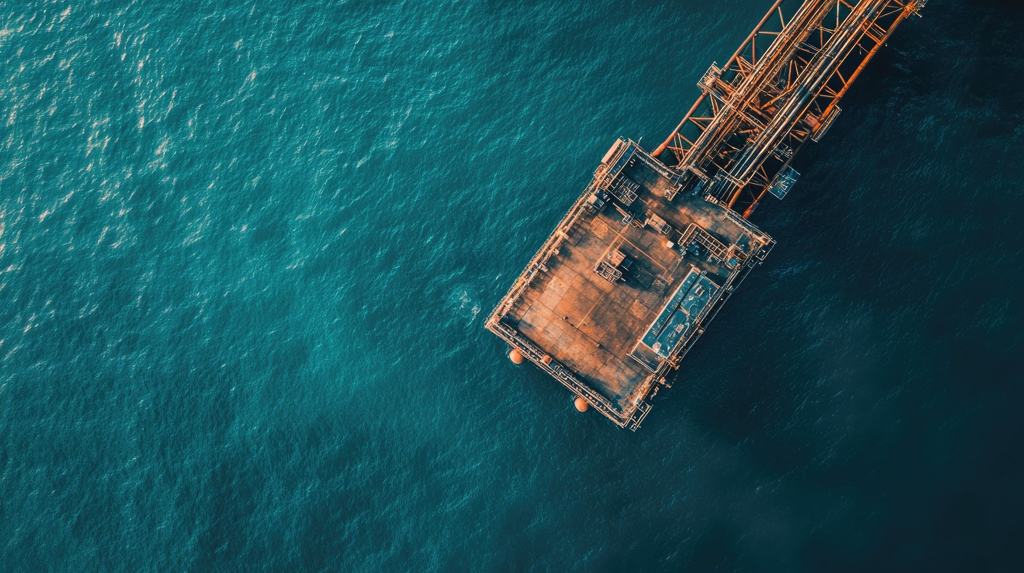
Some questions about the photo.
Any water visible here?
Yes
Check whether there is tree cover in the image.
No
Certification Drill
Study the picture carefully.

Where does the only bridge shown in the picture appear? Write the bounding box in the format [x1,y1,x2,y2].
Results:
[651,0,918,219]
